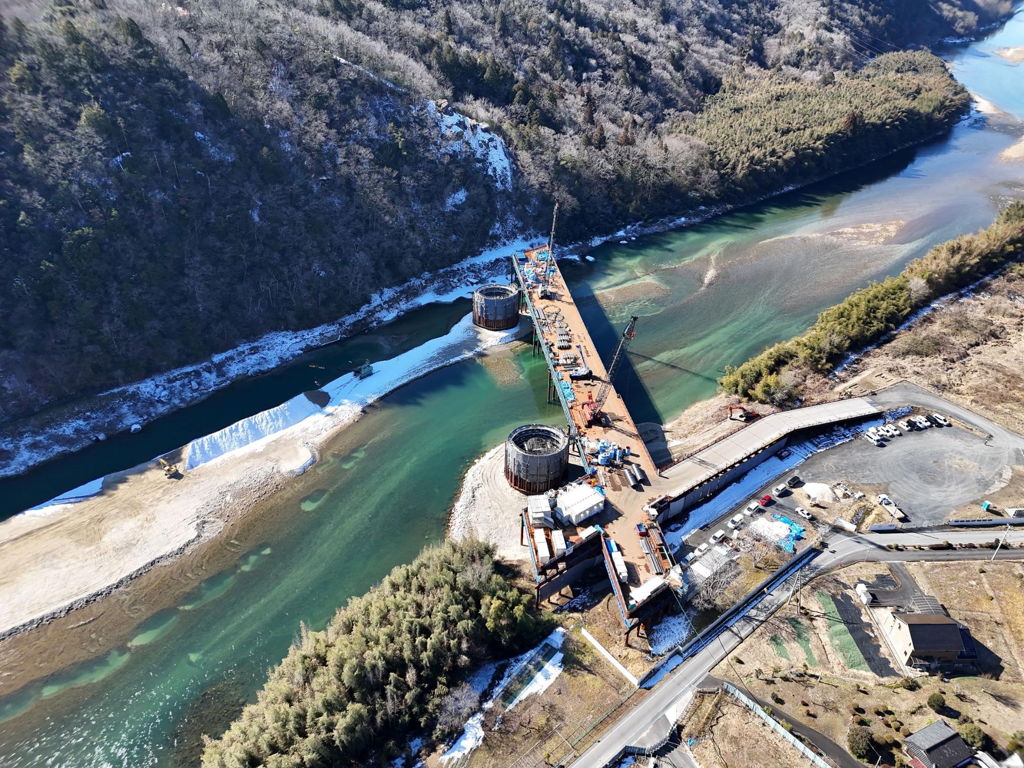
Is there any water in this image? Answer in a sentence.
Yes, the picture does contain water.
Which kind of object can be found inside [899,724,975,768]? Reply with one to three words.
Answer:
house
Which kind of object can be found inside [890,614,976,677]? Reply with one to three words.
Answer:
house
